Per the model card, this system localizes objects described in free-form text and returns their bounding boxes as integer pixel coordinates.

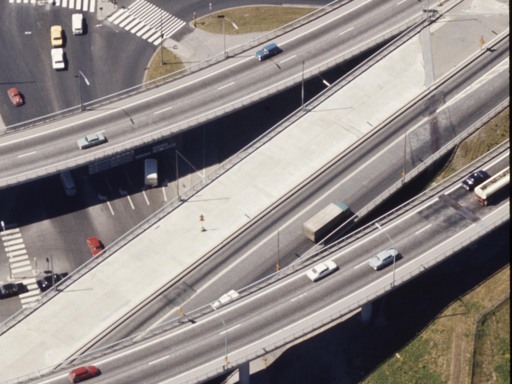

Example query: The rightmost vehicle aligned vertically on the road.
[144,154,158,187]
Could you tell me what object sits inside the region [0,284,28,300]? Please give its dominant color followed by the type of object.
black car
